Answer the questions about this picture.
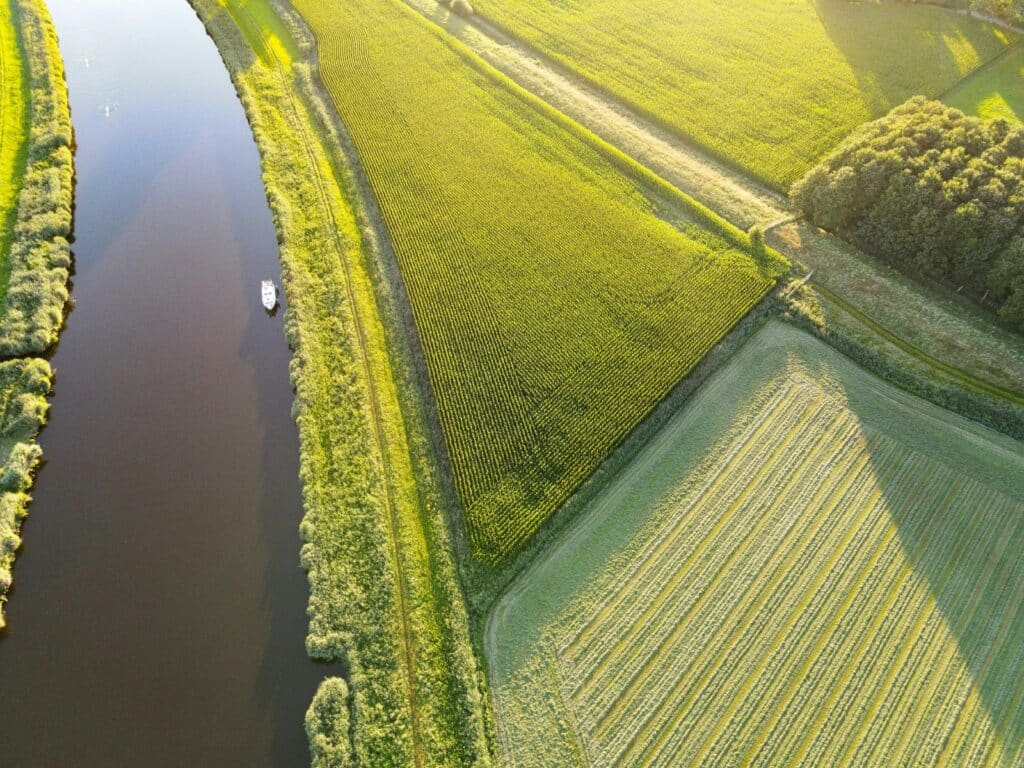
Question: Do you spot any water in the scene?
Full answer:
Yes, water can be seen from above here.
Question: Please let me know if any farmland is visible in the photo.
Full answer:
Yes, farmland shows up in the scene.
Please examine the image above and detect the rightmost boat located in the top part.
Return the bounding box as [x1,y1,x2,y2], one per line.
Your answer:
[261,280,278,313]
